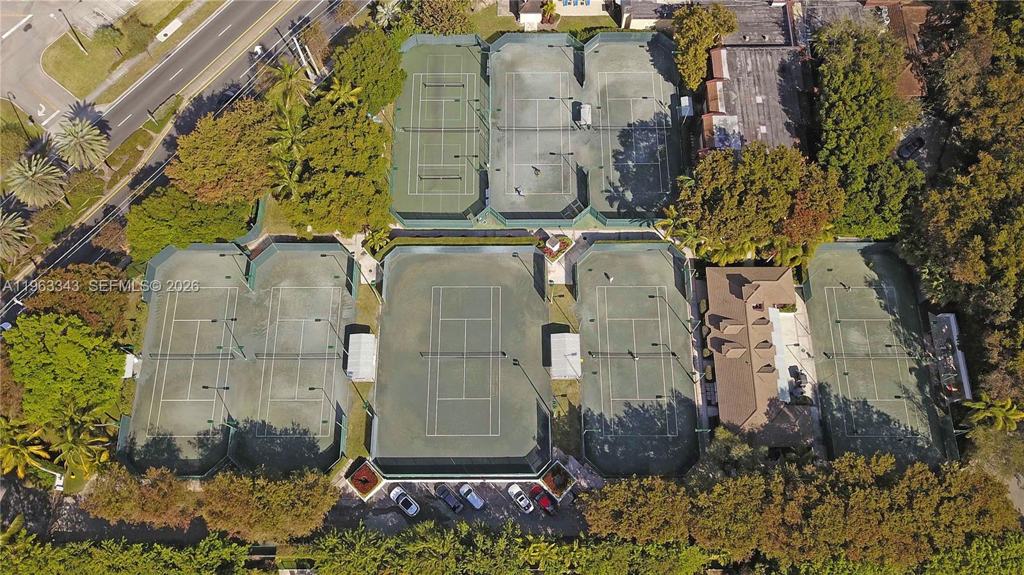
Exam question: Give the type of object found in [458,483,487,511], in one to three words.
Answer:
car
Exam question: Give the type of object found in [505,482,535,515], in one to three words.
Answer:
car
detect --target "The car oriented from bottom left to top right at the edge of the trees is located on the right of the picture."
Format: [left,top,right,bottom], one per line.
[898,137,924,159]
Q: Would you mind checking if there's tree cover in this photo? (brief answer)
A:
Yes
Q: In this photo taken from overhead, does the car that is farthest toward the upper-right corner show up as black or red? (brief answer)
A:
black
